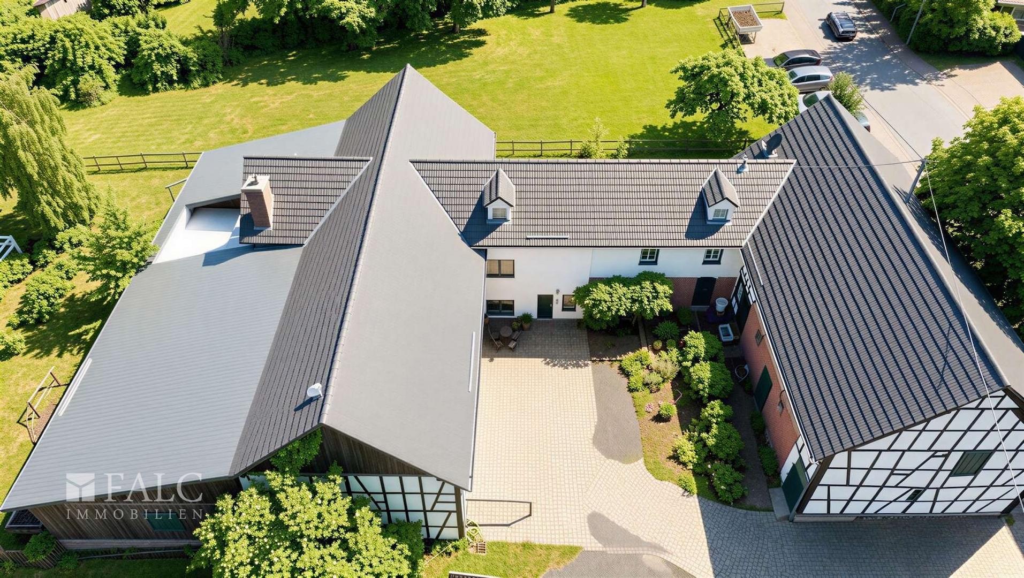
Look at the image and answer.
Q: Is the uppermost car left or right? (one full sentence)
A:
You can find the uppermost car on the right side of the picture.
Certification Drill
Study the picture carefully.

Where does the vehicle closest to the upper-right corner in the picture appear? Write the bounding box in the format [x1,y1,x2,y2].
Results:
[824,9,865,40]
